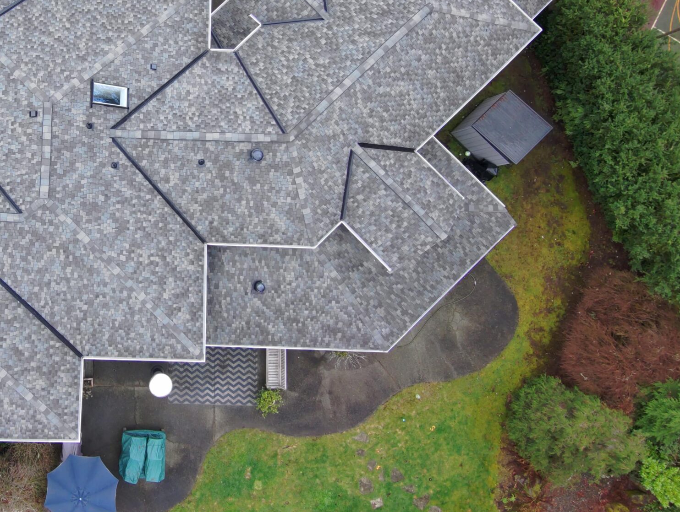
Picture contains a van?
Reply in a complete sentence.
No, the frame has no van in it.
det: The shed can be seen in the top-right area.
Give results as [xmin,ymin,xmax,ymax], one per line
[450,89,554,165]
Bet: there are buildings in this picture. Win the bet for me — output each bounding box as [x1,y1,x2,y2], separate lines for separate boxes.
[450,89,554,165]
[0,0,555,444]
